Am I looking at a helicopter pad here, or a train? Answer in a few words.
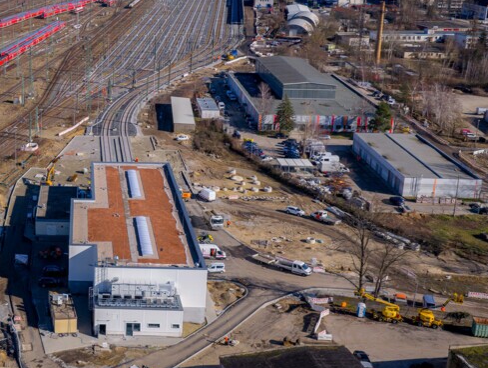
train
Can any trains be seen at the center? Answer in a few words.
No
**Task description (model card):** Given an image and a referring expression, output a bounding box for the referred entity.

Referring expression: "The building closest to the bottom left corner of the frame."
[50,286,77,334]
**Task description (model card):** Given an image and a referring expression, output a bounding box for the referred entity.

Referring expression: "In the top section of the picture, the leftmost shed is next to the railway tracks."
[160,96,197,131]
